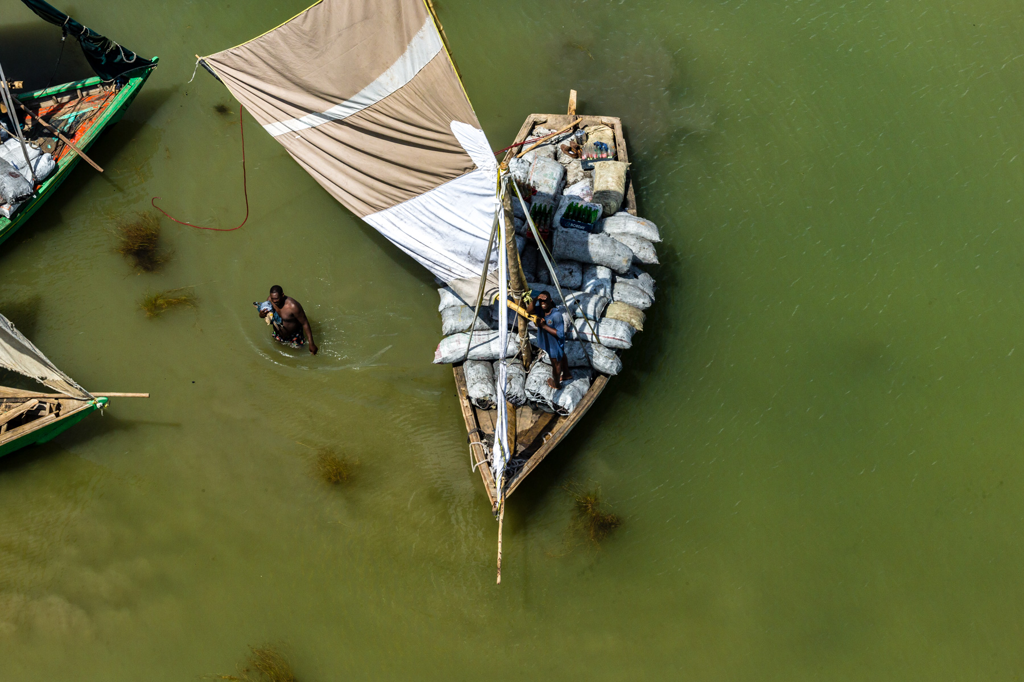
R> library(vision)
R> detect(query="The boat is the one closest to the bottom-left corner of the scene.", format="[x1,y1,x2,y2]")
[0,313,149,474]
